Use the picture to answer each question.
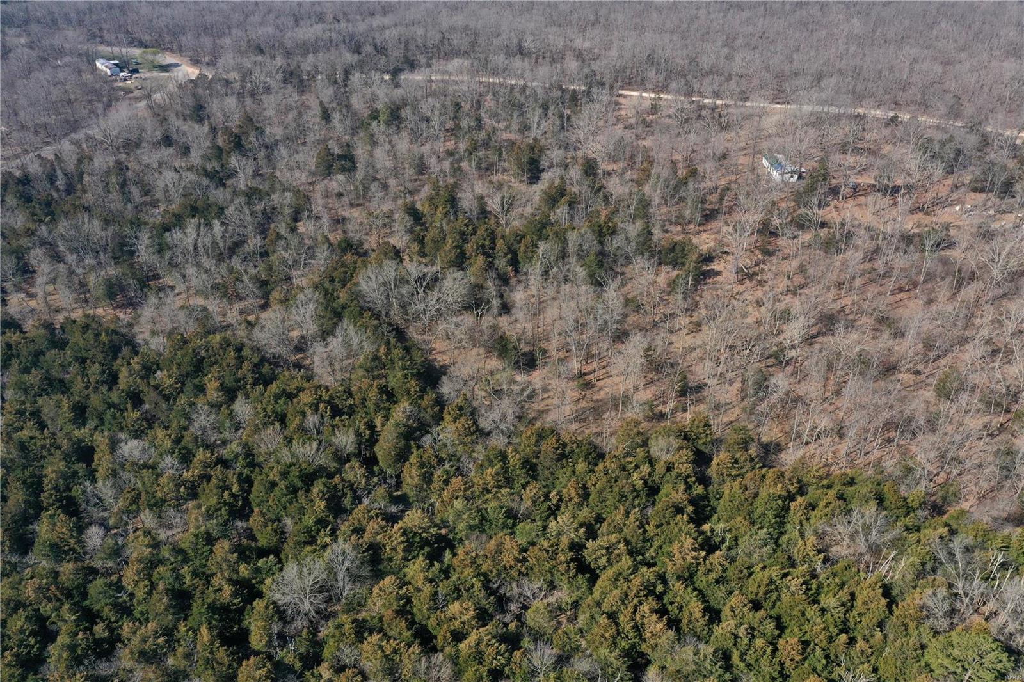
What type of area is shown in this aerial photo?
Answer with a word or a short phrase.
forest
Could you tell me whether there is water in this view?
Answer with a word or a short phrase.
No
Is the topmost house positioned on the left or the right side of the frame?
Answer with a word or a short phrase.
left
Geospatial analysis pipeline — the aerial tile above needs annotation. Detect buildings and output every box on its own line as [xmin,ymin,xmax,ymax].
[95,54,121,74]
[761,157,798,185]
